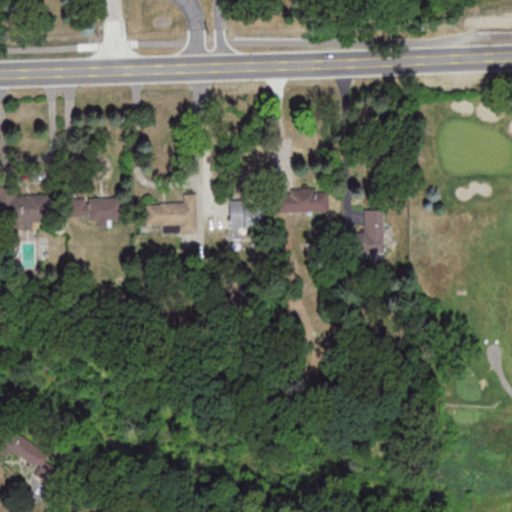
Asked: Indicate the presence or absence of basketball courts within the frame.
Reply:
No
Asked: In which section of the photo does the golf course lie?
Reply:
right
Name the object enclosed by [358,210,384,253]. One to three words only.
house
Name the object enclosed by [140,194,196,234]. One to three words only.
house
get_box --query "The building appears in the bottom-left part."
[2,432,48,480]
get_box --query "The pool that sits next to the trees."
[20,240,36,272]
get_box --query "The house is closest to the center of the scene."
[227,199,256,240]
